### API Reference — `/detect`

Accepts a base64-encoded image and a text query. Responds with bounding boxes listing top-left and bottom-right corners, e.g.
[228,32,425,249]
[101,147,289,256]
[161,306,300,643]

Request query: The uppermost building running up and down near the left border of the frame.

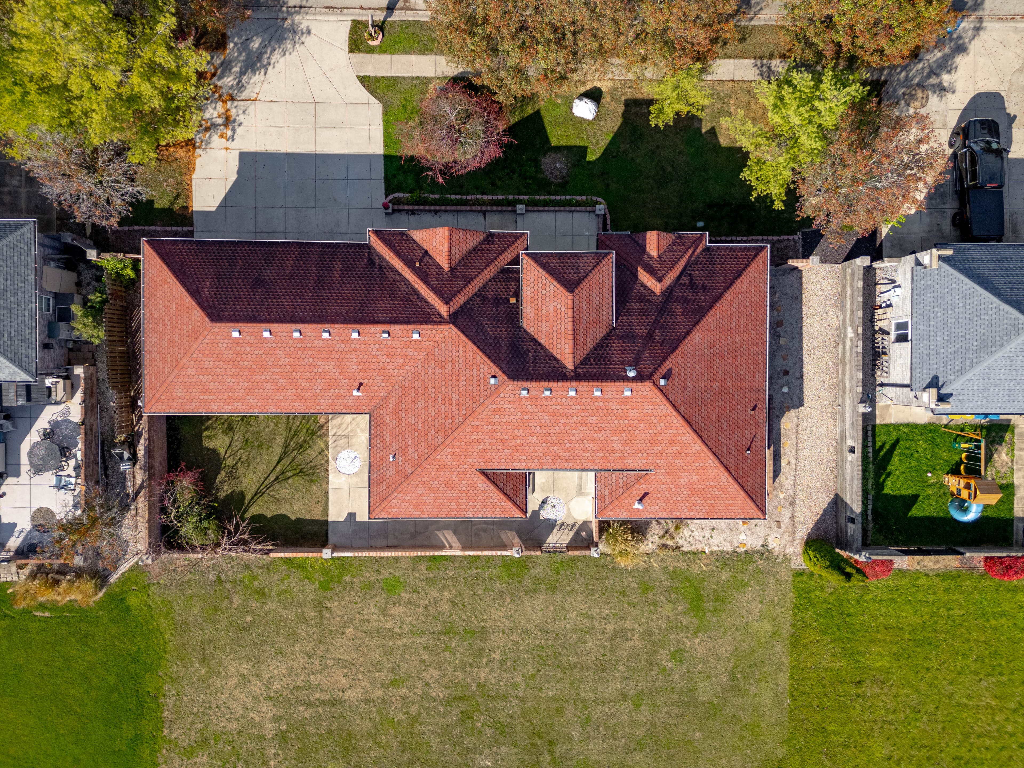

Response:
[0,217,68,384]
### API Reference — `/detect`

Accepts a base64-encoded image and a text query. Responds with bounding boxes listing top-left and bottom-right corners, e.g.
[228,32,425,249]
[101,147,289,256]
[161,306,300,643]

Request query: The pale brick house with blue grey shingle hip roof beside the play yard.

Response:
[884,241,1024,417]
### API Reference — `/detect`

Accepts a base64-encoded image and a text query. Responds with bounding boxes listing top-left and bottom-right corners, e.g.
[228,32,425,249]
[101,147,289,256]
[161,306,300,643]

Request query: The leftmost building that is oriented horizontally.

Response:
[140,225,770,521]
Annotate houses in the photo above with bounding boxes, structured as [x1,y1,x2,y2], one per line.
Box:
[884,241,1024,417]
[0,217,68,384]
[140,225,770,521]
